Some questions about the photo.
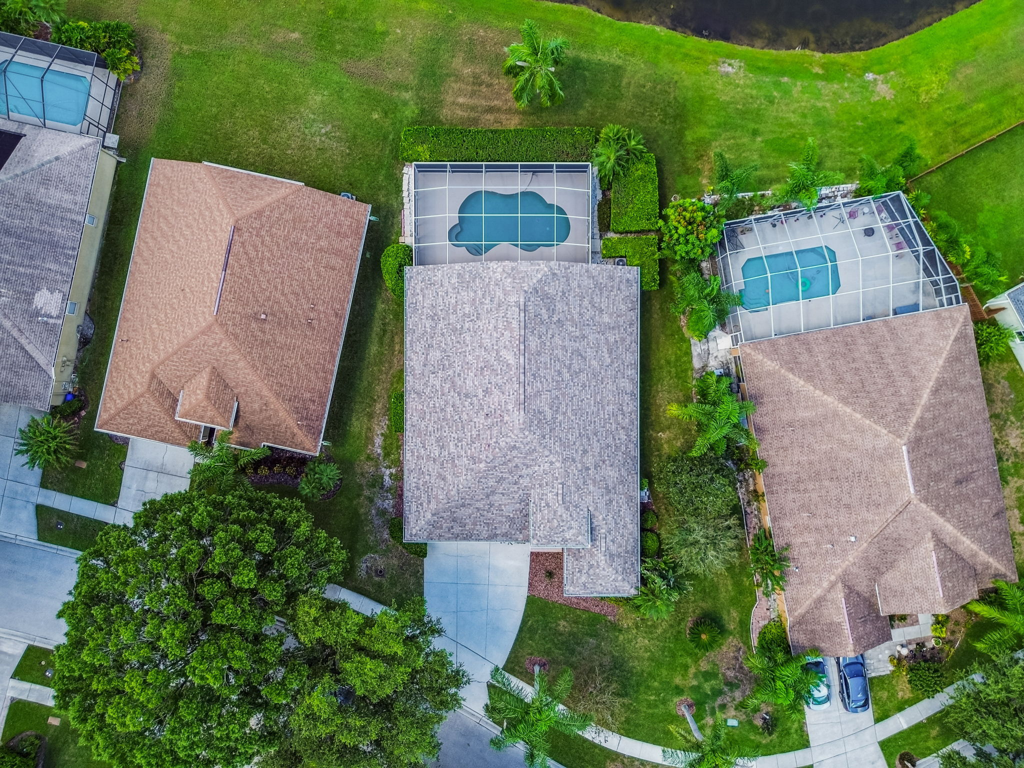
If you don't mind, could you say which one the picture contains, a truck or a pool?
pool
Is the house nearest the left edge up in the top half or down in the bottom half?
top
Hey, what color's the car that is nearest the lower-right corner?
blue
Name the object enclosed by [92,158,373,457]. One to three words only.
house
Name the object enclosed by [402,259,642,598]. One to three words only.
house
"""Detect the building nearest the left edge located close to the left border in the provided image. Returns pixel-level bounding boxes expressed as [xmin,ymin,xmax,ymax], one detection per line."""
[0,117,119,406]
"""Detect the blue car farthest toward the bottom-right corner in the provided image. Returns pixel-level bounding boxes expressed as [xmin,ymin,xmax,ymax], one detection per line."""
[831,653,870,713]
